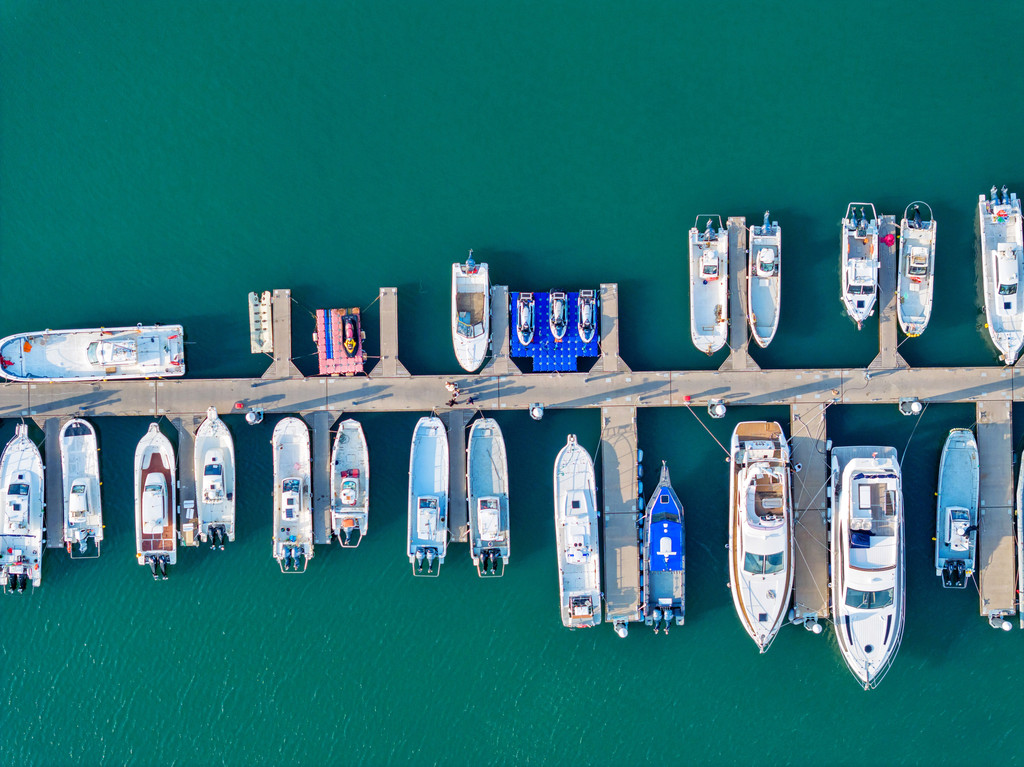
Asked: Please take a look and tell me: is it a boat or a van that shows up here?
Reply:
boat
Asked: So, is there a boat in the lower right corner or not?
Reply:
Yes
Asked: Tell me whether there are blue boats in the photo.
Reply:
Yes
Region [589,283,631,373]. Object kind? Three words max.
pier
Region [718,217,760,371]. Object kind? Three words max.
pier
